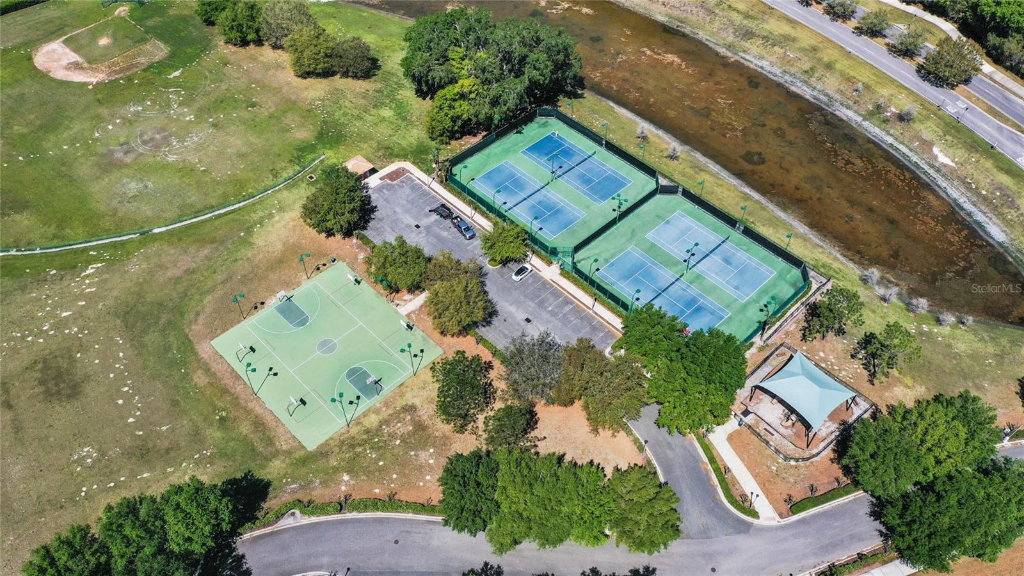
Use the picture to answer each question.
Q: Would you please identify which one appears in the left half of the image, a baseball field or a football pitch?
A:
baseball field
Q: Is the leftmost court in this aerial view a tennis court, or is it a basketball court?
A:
basketball court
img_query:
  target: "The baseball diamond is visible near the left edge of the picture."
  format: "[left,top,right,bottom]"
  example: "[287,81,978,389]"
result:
[32,8,171,83]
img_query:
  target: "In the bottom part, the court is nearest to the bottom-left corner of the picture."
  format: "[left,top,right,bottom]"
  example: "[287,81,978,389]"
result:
[212,261,443,450]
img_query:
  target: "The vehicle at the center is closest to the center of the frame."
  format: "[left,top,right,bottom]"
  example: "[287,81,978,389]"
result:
[511,263,533,280]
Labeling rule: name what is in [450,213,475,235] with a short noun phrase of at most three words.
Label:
truck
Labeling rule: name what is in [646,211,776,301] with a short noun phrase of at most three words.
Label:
tennis court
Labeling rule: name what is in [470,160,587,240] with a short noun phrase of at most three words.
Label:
tennis court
